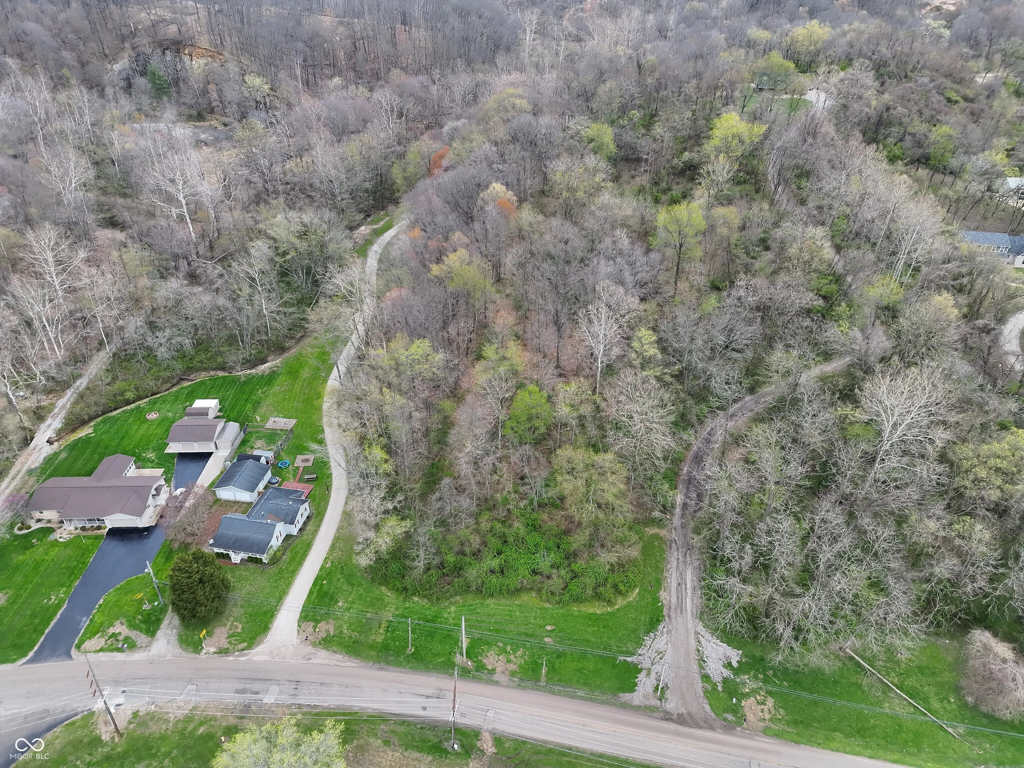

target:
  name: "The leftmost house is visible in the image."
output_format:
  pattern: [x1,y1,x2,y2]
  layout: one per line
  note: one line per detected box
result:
[28,452,172,532]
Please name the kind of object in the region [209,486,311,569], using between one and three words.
house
